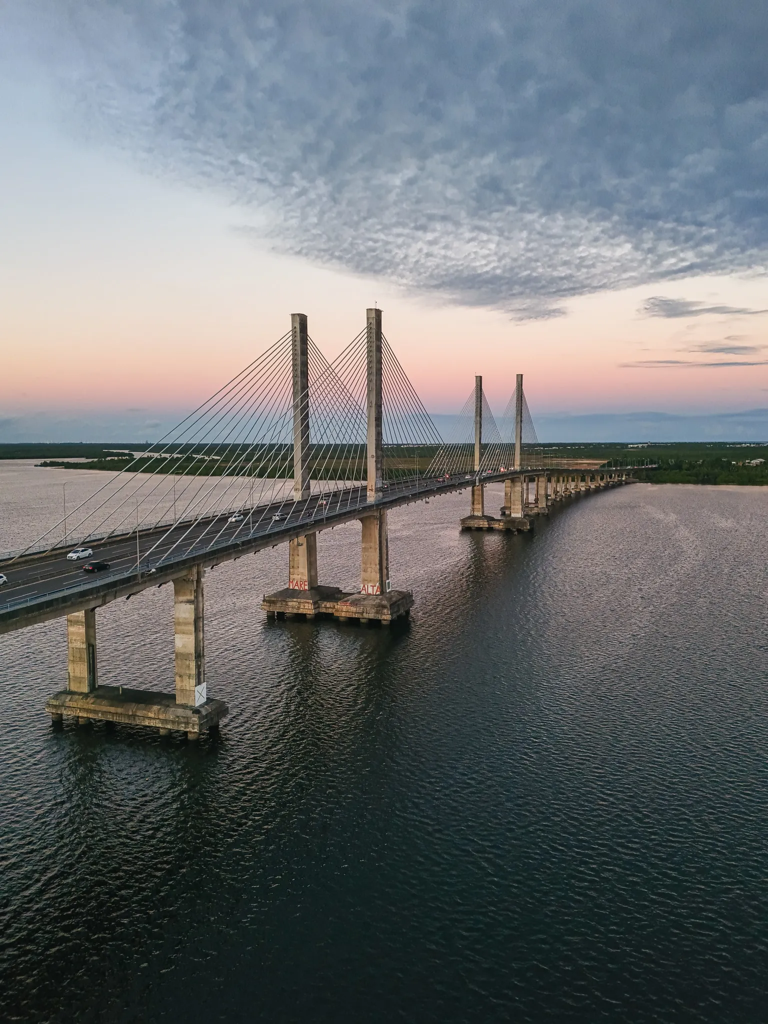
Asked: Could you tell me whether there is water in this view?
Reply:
Yes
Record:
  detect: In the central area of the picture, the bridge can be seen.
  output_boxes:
[0,300,660,740]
